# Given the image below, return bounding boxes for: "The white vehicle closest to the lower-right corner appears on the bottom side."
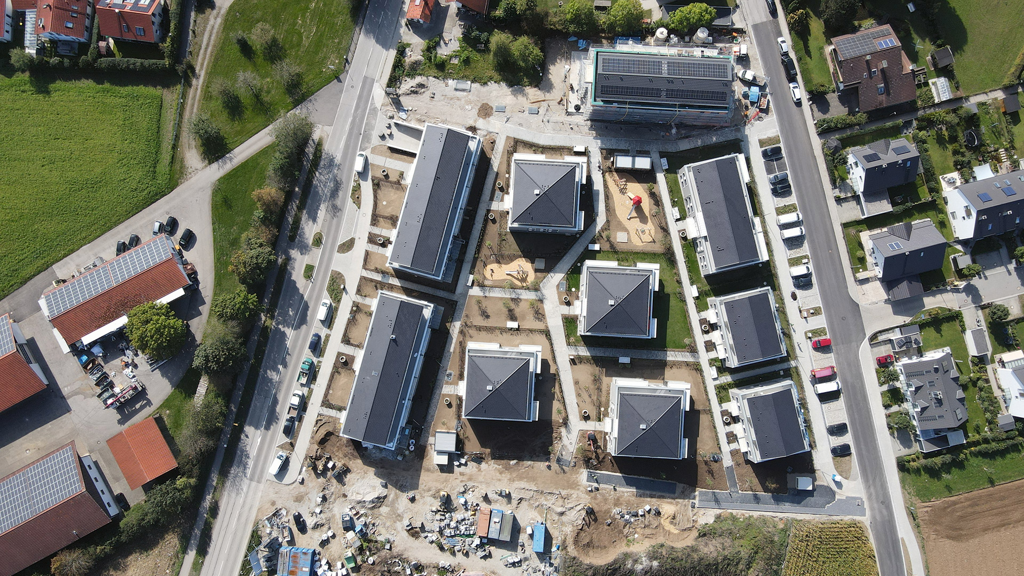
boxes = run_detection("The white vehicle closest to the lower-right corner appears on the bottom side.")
[814,381,838,394]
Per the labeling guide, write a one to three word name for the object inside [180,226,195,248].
car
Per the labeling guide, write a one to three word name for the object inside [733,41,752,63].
vehicle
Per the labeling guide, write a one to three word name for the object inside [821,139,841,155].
gazebo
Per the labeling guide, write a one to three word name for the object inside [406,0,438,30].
house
